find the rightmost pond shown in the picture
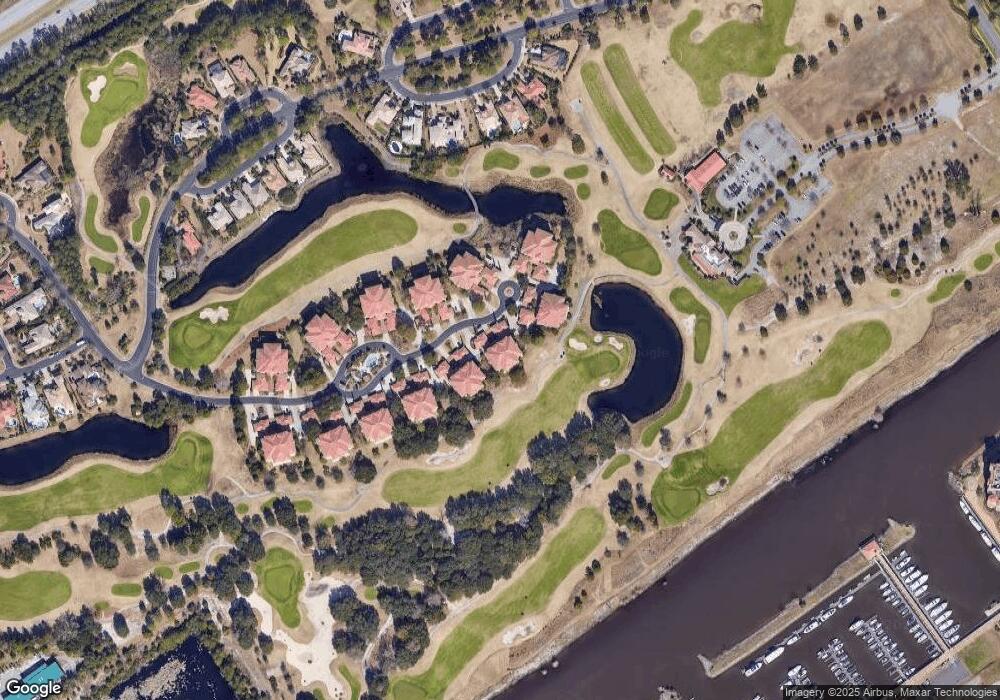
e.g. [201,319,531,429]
[588,283,682,420]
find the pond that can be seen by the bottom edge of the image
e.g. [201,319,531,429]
[110,637,236,700]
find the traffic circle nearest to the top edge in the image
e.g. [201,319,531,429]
[719,221,748,250]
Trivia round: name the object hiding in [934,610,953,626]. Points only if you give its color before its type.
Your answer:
white boat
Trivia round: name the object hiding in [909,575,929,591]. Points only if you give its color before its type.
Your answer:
white boat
